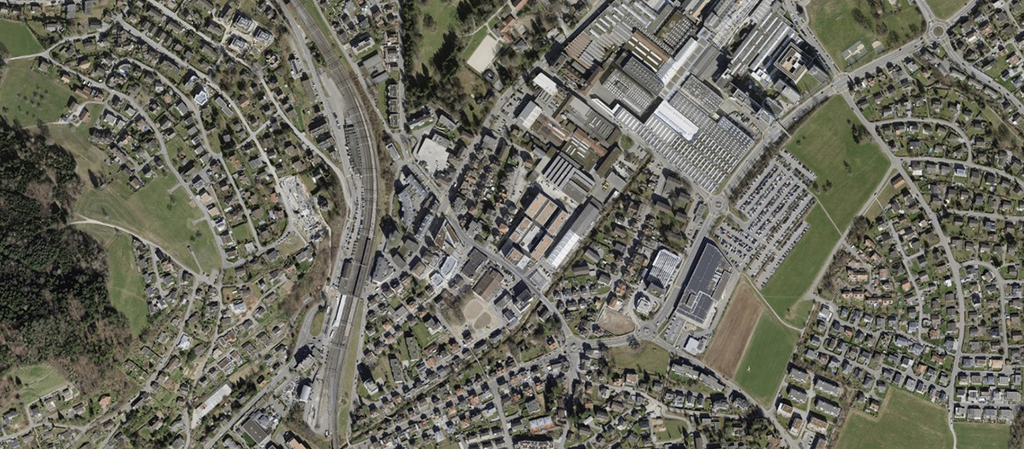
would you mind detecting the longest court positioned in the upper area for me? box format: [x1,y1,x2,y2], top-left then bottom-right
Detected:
[467,35,499,73]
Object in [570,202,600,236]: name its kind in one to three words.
building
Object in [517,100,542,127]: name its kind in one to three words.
building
